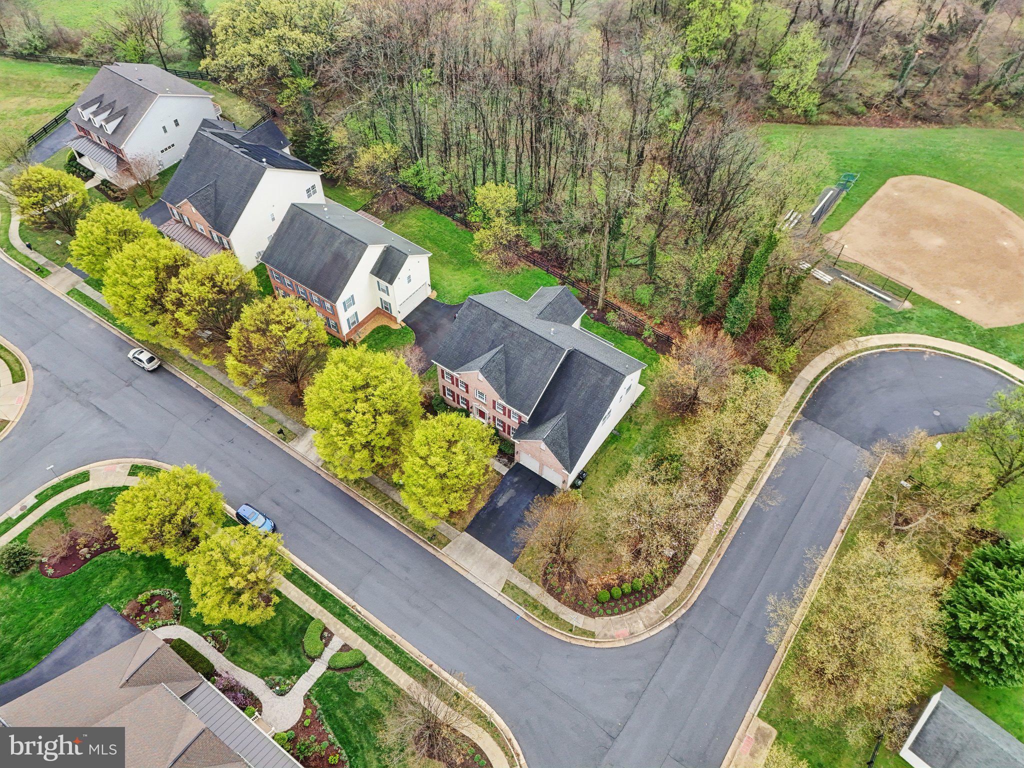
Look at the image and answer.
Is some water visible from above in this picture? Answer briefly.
No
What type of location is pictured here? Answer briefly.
residential area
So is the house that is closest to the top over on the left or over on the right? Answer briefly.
left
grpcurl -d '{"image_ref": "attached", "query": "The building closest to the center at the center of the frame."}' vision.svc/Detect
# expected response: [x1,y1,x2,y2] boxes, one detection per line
[430,285,648,493]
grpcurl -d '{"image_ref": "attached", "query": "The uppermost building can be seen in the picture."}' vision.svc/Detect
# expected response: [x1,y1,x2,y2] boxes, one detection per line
[64,59,242,191]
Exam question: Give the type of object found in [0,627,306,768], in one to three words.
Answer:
house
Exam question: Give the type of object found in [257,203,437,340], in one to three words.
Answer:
house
